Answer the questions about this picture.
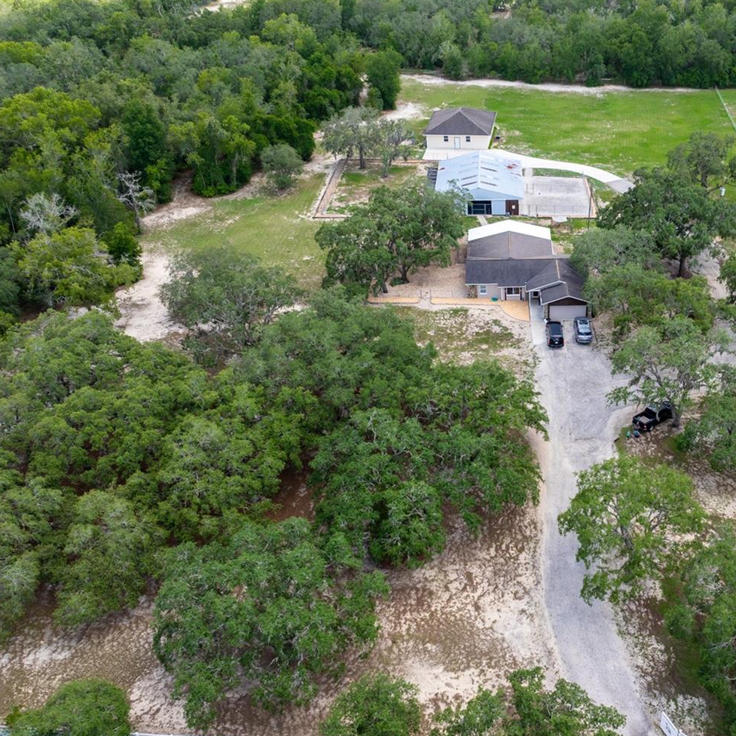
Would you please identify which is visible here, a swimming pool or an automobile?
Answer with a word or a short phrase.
automobile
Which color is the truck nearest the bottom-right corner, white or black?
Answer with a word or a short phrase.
black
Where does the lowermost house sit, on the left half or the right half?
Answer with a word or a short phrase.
right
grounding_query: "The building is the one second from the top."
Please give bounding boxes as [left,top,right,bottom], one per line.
[429,148,523,216]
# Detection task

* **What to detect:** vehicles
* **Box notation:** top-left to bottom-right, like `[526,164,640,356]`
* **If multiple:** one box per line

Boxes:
[638,398,677,433]
[546,319,565,343]
[575,316,594,339]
